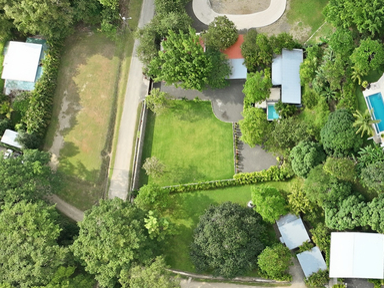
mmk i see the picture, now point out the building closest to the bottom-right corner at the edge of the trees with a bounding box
[329,233,384,279]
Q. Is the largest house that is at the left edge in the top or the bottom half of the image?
top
